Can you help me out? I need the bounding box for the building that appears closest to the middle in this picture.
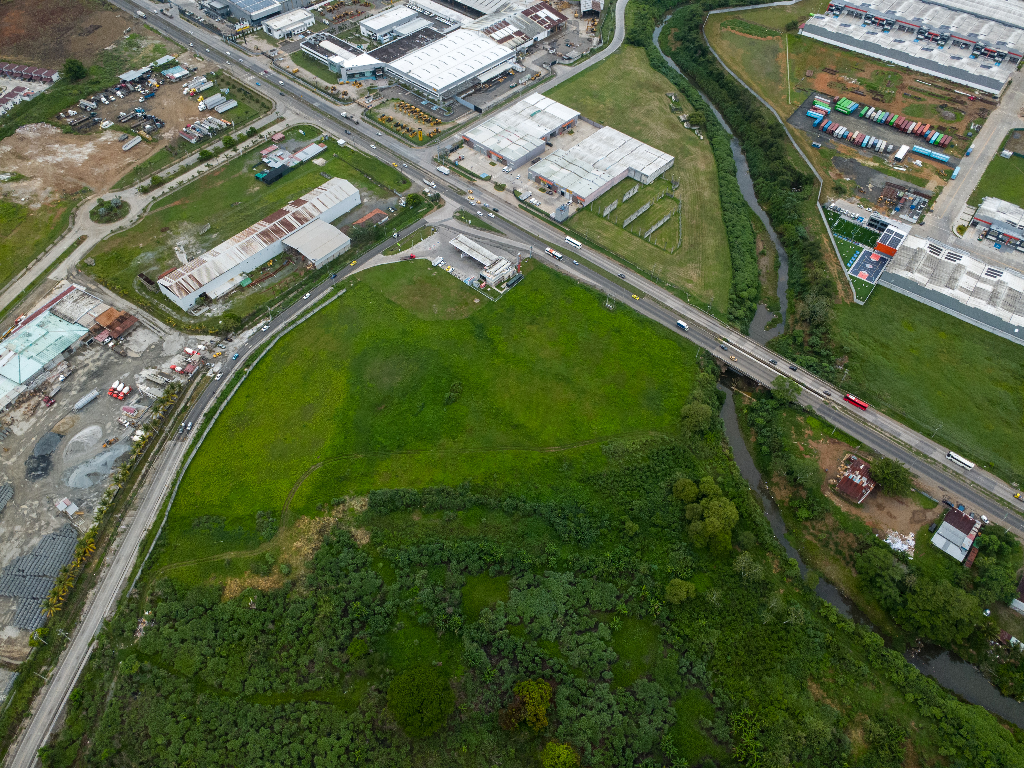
[480,256,517,290]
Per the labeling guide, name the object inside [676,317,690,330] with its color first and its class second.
white vehicle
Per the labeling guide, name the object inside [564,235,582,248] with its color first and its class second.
white vehicle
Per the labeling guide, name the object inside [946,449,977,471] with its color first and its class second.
white bus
